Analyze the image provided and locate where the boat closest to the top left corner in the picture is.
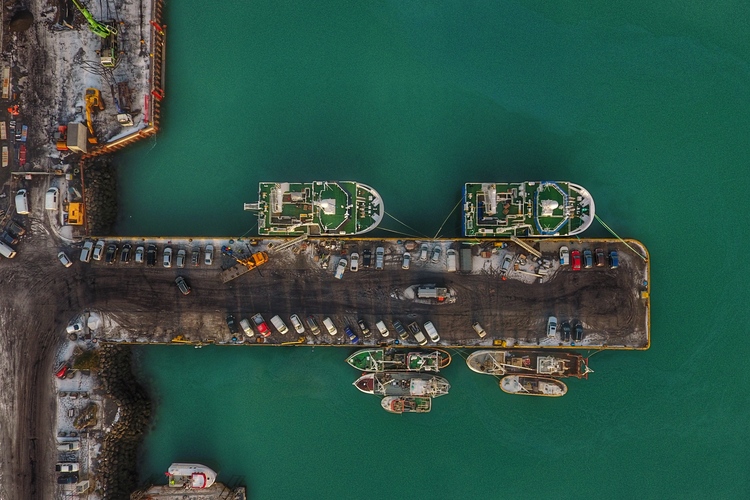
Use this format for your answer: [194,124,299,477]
[244,182,384,236]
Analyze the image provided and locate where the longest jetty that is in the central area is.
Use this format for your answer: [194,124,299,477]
[92,239,650,348]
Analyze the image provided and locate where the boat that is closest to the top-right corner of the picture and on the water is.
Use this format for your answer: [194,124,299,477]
[460,183,595,236]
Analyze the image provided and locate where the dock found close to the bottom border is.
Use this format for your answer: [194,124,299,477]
[134,474,248,500]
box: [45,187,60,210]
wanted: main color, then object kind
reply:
white vehicle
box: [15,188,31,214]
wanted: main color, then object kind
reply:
white vehicle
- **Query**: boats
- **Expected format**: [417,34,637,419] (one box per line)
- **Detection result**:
[244,182,384,236]
[353,371,450,398]
[500,376,567,396]
[381,396,432,417]
[465,349,594,379]
[166,462,218,488]
[460,183,595,236]
[345,348,452,372]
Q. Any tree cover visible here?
No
